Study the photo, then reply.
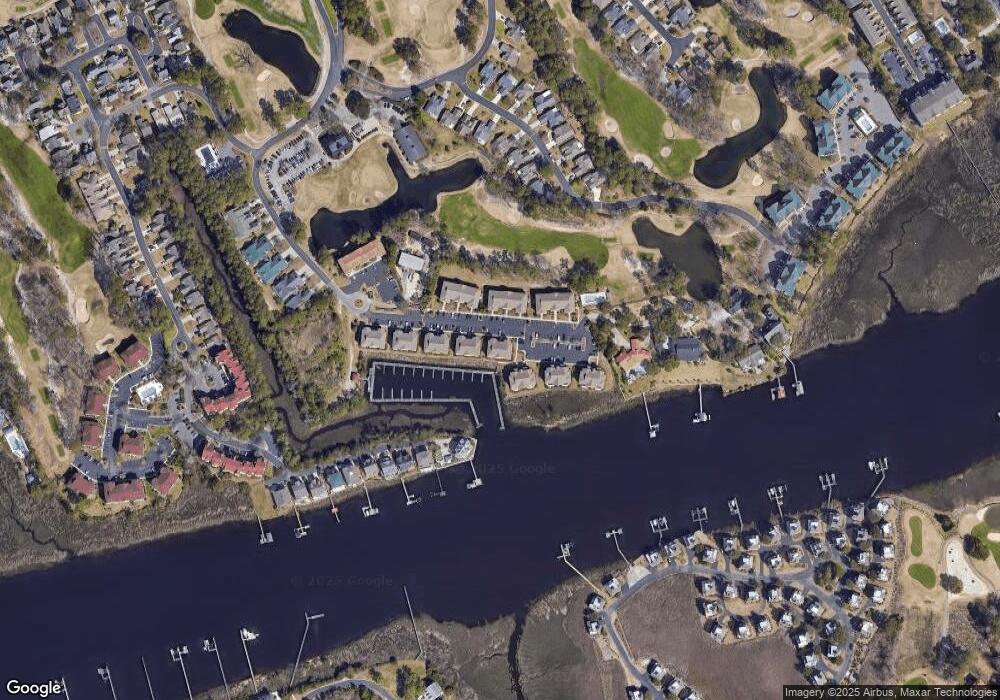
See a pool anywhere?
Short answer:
Yes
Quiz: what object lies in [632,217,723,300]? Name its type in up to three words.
pond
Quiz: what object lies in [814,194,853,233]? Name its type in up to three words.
building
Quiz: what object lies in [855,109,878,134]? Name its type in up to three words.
swimming pool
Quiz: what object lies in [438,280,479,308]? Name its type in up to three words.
house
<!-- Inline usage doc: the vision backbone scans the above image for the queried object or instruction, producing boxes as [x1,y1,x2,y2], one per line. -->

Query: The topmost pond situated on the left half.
[224,9,320,97]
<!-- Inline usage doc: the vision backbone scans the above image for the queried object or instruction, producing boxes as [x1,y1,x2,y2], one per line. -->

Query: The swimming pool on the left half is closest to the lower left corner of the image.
[4,430,28,459]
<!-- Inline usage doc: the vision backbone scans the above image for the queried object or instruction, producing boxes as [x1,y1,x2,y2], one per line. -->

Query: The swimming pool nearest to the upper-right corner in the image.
[934,16,950,36]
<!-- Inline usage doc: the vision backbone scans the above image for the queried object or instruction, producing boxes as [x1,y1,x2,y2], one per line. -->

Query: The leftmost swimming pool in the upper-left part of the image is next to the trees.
[195,142,220,171]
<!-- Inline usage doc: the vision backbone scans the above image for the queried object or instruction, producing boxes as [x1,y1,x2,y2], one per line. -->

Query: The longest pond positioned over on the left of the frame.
[309,144,482,250]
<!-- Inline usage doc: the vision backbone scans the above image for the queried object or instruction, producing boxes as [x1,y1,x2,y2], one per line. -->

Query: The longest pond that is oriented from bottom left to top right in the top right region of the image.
[693,66,786,188]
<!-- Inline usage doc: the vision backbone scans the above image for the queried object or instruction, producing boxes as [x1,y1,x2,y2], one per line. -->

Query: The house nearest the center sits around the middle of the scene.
[485,336,511,358]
